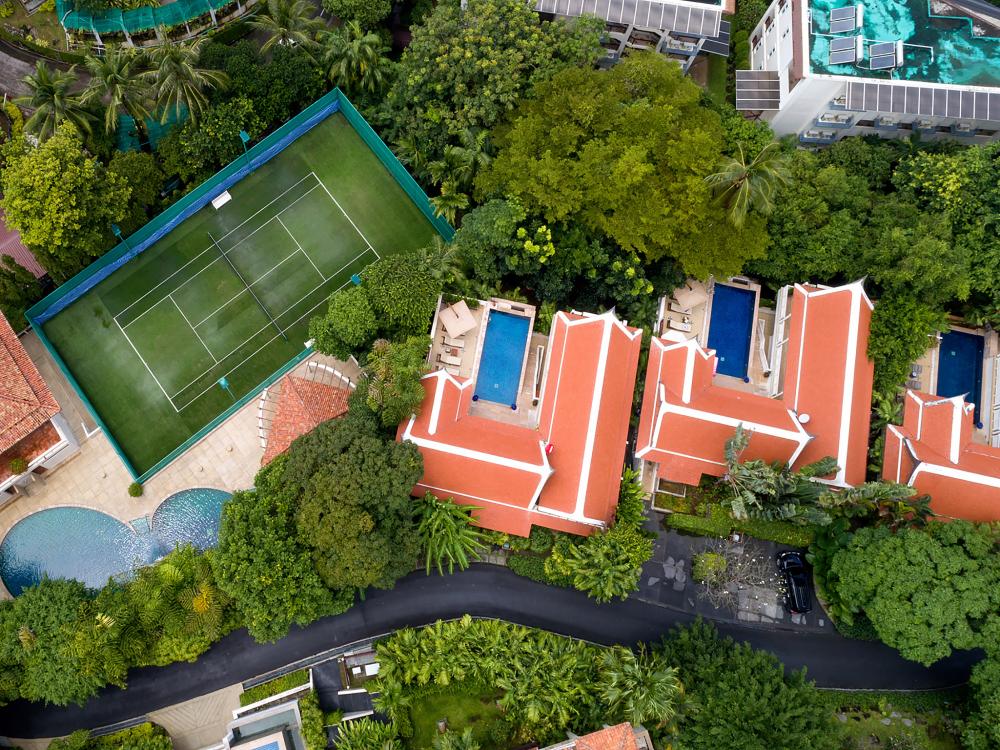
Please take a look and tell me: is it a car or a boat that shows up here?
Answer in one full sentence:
It is a car that can be seen here.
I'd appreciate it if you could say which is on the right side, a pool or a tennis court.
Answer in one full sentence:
What appears on the right side is a pool.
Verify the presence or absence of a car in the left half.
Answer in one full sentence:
No, no car is visible in the left half.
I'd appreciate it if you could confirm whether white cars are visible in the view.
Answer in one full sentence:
No, there appears to be no white car in this shot.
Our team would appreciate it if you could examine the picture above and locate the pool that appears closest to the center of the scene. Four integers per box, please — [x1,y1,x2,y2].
[471,299,535,411]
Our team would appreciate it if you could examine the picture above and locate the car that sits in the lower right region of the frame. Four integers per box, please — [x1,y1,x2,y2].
[777,552,811,609]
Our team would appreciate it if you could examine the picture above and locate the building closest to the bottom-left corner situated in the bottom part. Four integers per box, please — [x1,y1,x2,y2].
[195,699,309,750]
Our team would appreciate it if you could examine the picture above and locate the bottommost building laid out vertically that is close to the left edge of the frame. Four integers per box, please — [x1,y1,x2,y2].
[0,307,89,509]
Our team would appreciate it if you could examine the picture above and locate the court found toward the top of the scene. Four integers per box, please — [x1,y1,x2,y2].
[42,110,443,467]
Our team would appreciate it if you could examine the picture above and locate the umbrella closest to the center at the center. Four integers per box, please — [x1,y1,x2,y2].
[440,300,478,338]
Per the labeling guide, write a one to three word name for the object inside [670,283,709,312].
umbrella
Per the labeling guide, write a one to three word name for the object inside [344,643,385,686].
shed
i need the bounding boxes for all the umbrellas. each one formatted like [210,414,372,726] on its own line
[440,300,478,338]
[670,283,709,312]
